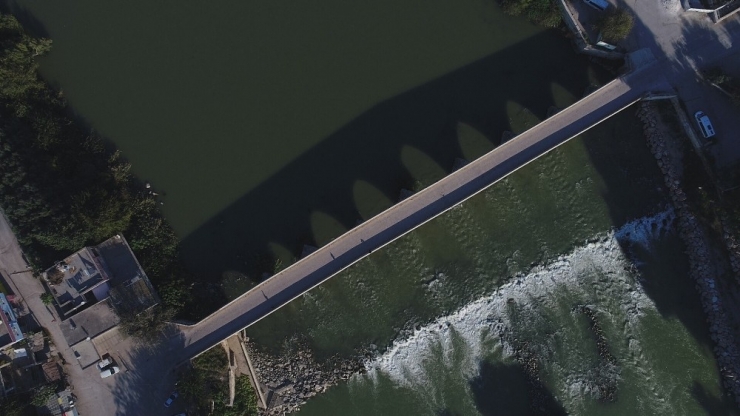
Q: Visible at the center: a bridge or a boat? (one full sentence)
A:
It is a bridge that can be seen at the center.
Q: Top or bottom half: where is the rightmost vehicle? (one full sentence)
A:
The rightmost vehicle sits in the top half of the picture.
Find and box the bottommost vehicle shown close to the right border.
[694,111,718,139]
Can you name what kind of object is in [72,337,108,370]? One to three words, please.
shed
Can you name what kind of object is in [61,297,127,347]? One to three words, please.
house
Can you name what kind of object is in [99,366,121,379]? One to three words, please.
vehicle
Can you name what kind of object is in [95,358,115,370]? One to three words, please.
vehicle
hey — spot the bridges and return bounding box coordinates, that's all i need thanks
[152,60,663,369]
